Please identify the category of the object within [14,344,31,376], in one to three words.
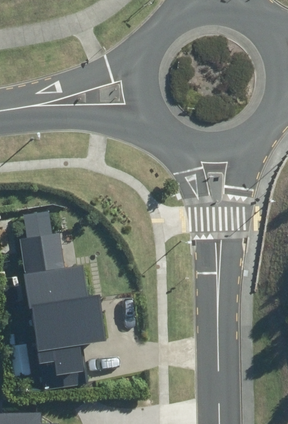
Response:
shed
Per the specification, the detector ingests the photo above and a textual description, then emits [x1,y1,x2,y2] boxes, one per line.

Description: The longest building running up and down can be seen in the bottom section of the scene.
[20,212,106,390]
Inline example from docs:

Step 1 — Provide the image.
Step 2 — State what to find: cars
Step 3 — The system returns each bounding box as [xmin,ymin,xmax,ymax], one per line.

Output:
[124,300,136,329]
[88,358,120,372]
